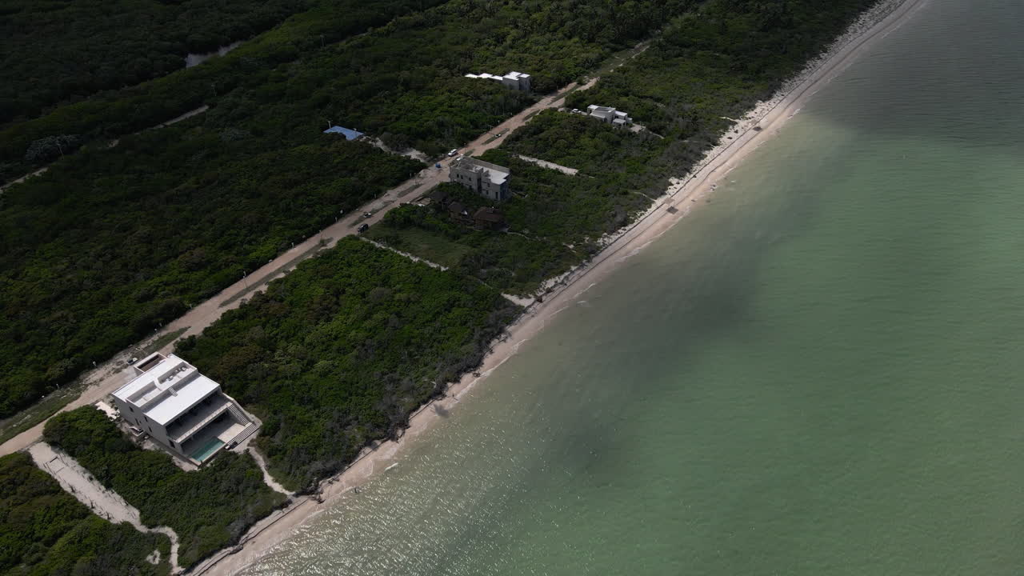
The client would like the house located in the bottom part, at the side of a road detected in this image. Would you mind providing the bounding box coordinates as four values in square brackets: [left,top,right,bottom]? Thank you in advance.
[117,354,265,466]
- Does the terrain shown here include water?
Yes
